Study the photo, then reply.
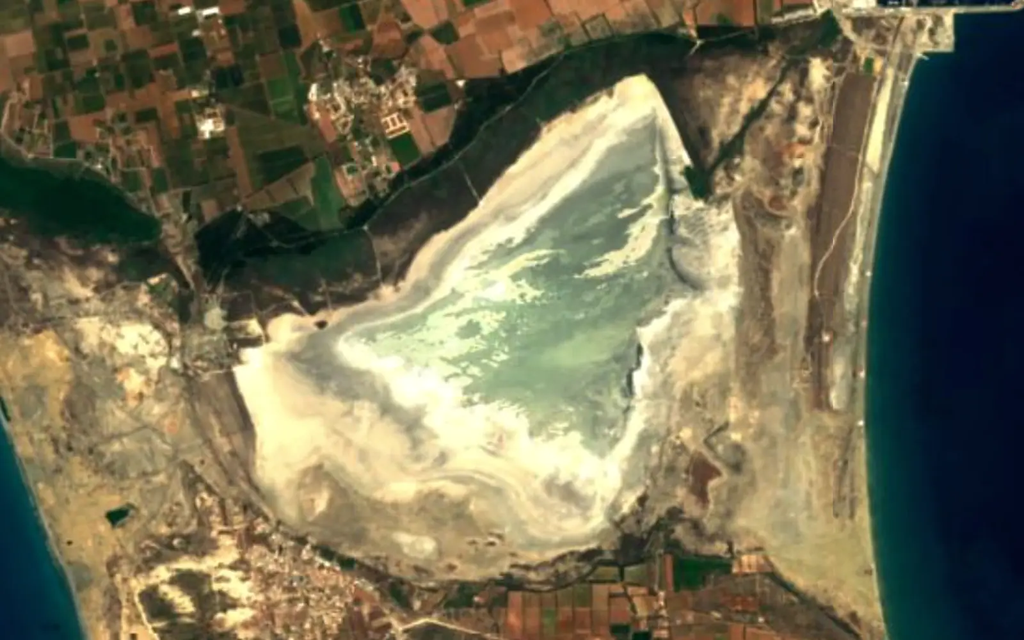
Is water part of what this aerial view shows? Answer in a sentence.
Yes, water shows up in the scene.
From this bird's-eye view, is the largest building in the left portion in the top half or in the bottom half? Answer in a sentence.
It is in the top half that the largest building in the left portion appears.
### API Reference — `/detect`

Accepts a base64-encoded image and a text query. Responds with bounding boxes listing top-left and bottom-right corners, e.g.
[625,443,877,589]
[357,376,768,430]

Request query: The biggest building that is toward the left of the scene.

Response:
[382,113,409,139]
